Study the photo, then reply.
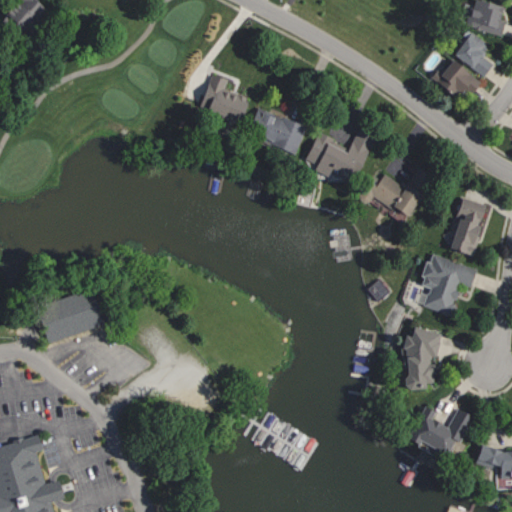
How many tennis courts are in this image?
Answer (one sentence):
The count of tennis courts is 0.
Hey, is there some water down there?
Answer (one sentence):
Yes, some water is visible.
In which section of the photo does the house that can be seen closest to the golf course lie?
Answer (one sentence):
You can find the house that can be seen closest to the golf course in the top area of the picture.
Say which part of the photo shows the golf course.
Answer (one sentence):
You can find the golf course in the top left area of the picture.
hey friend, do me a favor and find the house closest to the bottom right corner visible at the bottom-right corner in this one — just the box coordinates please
[477,446,512,482]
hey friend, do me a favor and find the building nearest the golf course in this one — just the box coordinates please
[197,74,250,118]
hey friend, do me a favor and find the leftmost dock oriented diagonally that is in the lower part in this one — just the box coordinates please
[242,408,318,468]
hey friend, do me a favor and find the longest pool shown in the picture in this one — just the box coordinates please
[424,51,442,71]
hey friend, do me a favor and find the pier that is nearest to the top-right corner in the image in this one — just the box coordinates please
[337,233,362,262]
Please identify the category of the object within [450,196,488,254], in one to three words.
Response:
house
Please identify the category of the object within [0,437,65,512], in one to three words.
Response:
building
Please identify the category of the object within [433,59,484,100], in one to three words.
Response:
house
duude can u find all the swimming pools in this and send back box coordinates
[424,51,442,71]
[409,286,419,300]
